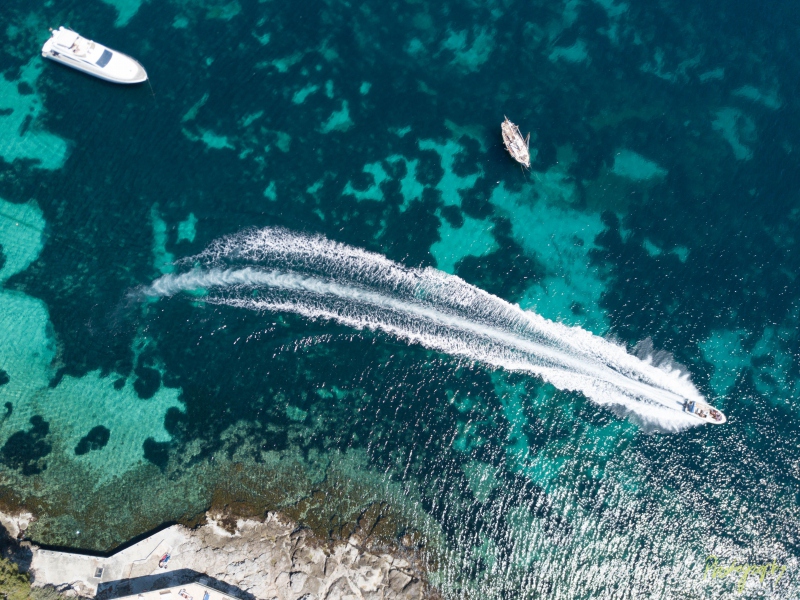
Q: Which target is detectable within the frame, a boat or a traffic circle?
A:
boat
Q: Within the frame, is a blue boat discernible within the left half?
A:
No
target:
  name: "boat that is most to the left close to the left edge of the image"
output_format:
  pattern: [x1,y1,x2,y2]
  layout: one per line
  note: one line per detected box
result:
[34,20,161,117]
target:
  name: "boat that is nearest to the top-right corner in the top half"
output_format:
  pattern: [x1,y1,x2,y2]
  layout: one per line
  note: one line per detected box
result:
[499,113,544,193]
